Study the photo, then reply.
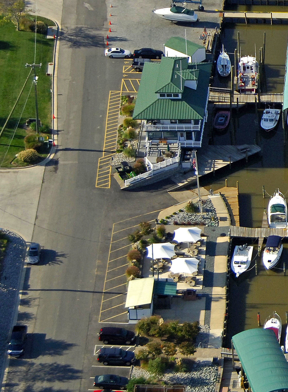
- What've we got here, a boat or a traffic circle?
boat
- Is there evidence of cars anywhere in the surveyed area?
Yes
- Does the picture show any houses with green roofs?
Yes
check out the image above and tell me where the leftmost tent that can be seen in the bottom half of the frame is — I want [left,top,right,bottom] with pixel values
[143,243,178,262]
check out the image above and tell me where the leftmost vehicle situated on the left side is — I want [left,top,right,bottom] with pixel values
[8,327,28,356]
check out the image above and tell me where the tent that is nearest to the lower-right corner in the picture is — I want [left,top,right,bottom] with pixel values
[167,258,202,276]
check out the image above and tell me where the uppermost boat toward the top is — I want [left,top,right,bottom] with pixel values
[150,5,200,24]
